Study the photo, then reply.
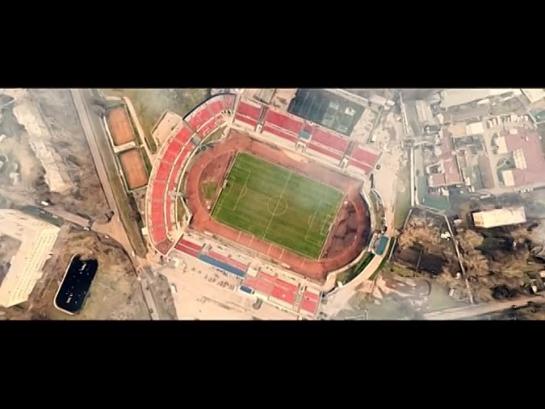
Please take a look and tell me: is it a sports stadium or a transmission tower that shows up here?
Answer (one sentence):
Looking from above, you can make out a sports stadium.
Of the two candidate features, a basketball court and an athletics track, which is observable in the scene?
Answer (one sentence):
This aerial view contains an athletics track.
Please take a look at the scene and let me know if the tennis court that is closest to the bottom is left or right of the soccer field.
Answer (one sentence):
From the viewer's perspective, the tennis court that is closest to the bottom falls to the left of the soccer field.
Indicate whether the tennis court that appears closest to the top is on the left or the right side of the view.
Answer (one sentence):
It is on the left.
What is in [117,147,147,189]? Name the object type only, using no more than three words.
tennis court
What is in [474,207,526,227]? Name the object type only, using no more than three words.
building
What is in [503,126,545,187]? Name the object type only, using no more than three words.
building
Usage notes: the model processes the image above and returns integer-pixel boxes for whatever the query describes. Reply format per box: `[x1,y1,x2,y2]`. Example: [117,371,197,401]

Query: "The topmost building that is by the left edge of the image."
[14,99,80,191]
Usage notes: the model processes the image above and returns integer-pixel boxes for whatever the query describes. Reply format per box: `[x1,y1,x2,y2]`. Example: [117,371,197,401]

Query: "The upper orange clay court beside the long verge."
[106,104,134,146]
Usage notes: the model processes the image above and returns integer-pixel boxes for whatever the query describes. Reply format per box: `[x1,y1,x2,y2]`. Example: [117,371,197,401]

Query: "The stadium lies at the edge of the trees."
[145,94,382,317]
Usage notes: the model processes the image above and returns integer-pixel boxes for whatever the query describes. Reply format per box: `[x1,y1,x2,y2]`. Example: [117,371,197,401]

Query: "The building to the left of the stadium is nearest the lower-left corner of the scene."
[0,205,60,306]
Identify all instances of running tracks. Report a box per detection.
[188,139,368,275]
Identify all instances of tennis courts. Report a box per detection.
[117,147,147,189]
[106,104,134,146]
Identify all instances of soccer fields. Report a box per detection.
[211,151,345,263]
